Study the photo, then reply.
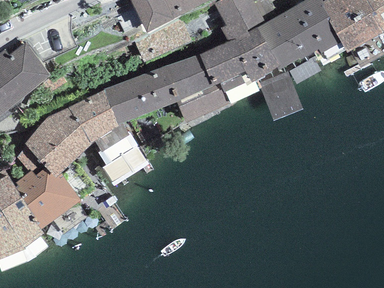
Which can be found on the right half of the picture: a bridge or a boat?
boat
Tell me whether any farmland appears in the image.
No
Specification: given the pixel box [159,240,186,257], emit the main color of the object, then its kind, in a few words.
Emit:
white boat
